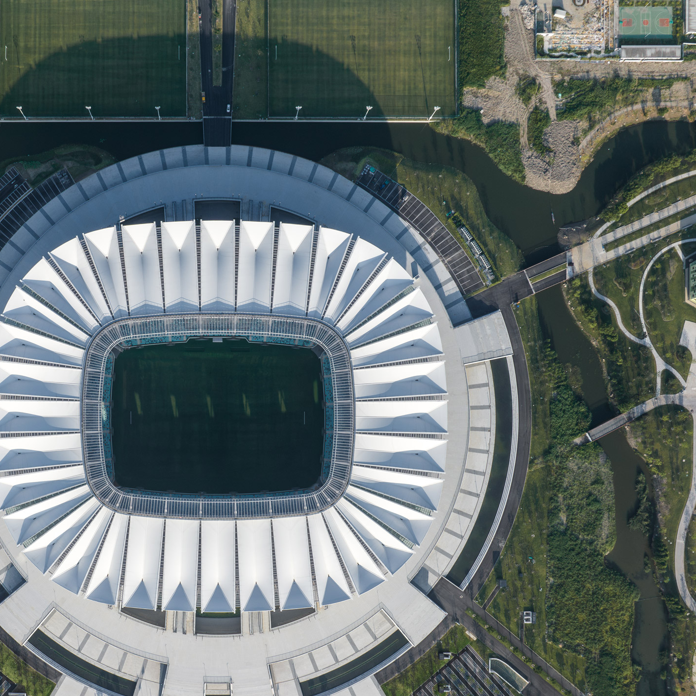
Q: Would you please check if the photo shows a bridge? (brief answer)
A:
Yes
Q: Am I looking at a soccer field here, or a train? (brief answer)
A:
soccer field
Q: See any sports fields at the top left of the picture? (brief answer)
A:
Yes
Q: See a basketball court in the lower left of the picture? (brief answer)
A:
No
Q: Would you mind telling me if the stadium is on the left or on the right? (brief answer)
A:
left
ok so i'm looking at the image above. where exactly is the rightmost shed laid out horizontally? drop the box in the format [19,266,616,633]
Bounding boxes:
[618,44,681,60]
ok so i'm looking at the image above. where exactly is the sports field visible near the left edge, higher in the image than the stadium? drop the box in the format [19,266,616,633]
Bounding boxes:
[0,0,188,118]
